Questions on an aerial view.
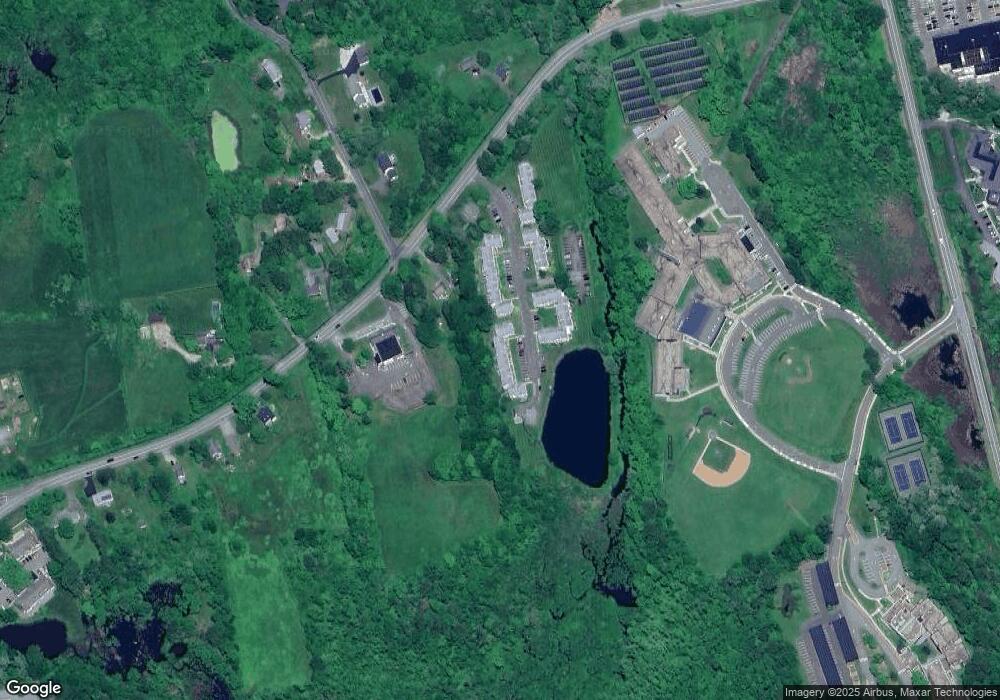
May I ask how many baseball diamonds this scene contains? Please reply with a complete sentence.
In total, there are 2 baseball diamonds in the scene.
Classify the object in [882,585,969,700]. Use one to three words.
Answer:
building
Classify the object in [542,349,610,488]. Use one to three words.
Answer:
pond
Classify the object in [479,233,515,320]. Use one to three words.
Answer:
building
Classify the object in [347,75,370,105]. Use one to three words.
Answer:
house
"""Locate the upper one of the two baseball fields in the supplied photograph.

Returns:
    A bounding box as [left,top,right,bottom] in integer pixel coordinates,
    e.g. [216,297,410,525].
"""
[754,320,872,459]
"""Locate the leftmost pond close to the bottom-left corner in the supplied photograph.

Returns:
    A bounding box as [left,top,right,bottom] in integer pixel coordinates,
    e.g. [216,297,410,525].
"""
[0,617,66,657]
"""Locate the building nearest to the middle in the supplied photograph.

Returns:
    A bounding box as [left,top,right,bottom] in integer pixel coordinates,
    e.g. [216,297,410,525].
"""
[492,321,528,402]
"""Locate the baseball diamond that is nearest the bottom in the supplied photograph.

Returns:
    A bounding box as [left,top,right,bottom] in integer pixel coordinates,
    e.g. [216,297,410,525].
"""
[655,391,841,576]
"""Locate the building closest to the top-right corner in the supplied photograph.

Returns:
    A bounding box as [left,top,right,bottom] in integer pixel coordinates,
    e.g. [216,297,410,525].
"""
[933,22,1000,82]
